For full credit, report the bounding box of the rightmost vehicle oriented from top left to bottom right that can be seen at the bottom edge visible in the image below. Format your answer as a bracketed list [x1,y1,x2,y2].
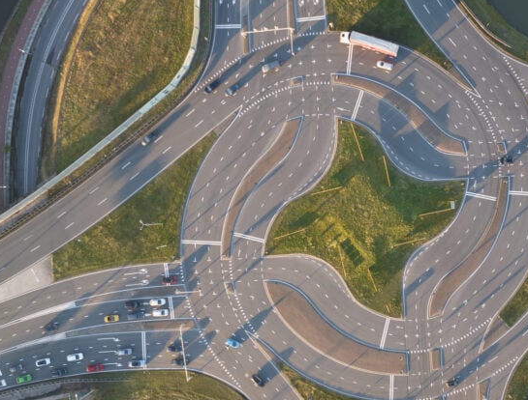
[250,375,267,388]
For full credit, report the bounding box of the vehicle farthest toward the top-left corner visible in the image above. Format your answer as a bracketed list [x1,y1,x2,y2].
[139,131,155,146]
